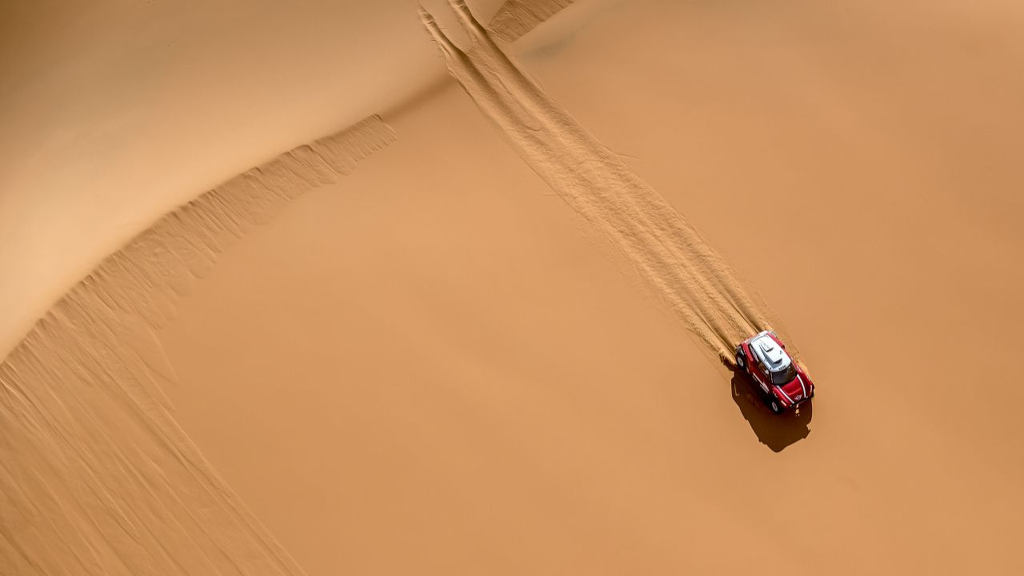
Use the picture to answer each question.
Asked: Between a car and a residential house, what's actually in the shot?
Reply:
car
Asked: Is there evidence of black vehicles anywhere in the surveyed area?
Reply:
No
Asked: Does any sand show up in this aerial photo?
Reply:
Yes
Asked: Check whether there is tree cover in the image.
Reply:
No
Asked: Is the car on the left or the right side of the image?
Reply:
right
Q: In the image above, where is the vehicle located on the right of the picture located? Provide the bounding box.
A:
[731,330,812,415]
